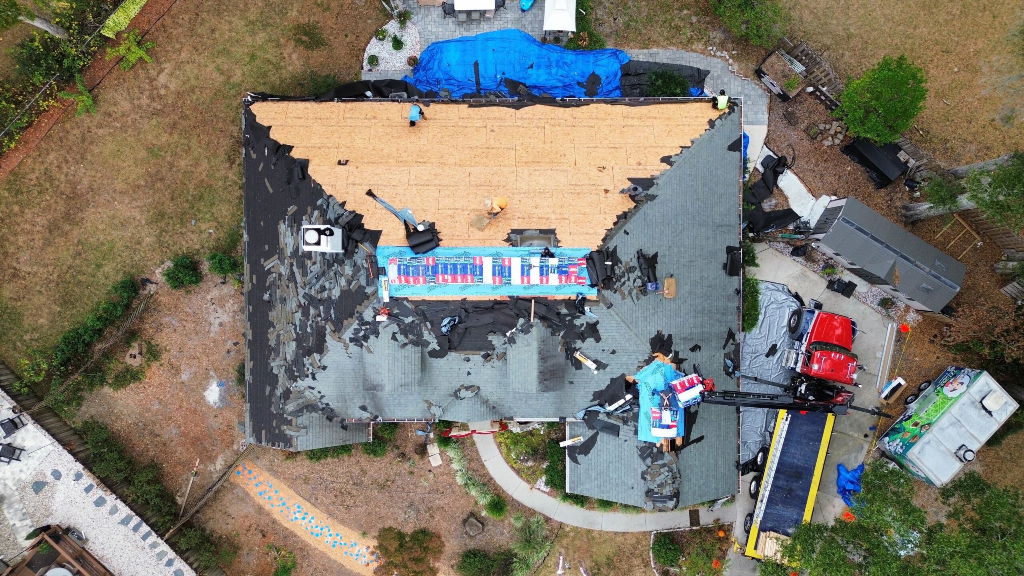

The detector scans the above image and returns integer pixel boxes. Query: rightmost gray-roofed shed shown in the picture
[808,195,966,313]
